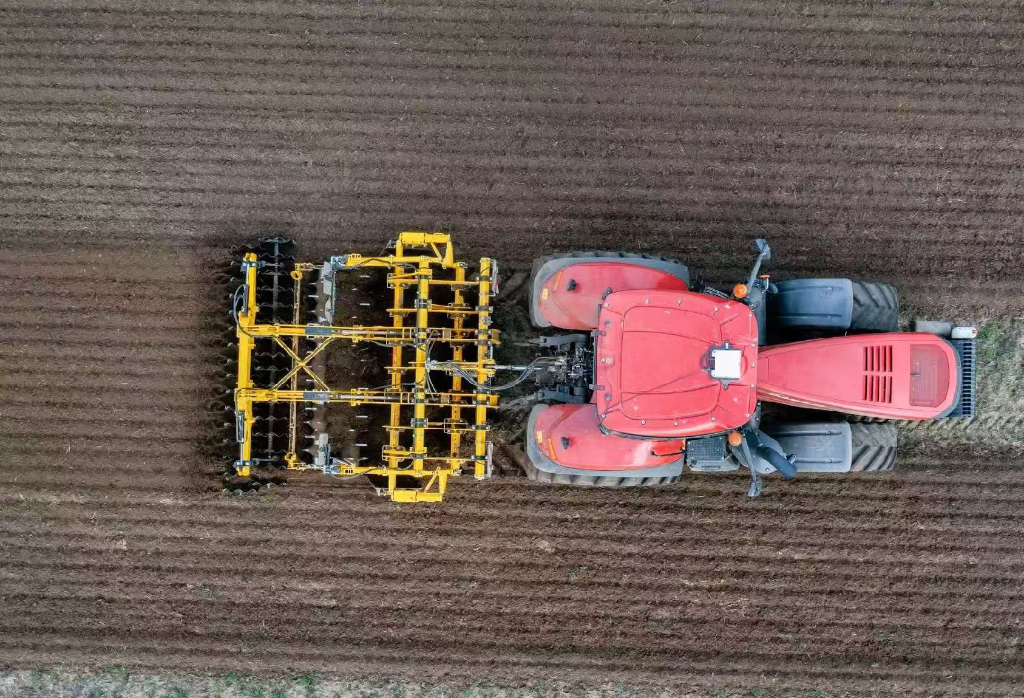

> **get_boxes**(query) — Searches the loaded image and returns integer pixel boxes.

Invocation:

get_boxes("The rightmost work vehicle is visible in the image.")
[496,239,976,496]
